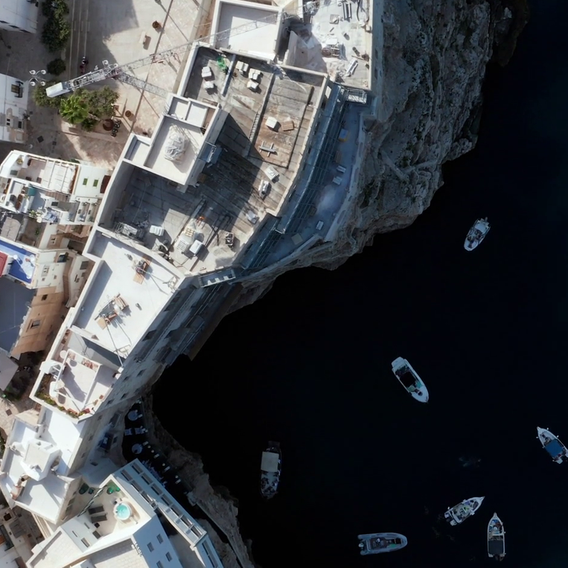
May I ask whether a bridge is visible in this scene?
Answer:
No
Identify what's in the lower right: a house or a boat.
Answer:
boat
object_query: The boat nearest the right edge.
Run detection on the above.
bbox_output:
[537,427,568,466]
